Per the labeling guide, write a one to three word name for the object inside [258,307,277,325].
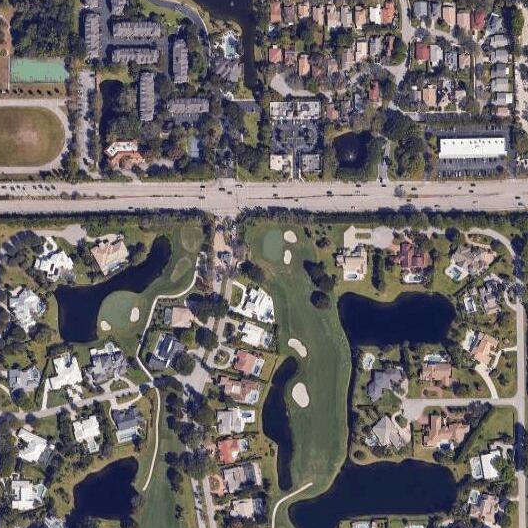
swimming pool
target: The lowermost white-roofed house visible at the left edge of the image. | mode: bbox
[11,481,32,509]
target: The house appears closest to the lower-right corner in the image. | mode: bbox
[469,498,500,518]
